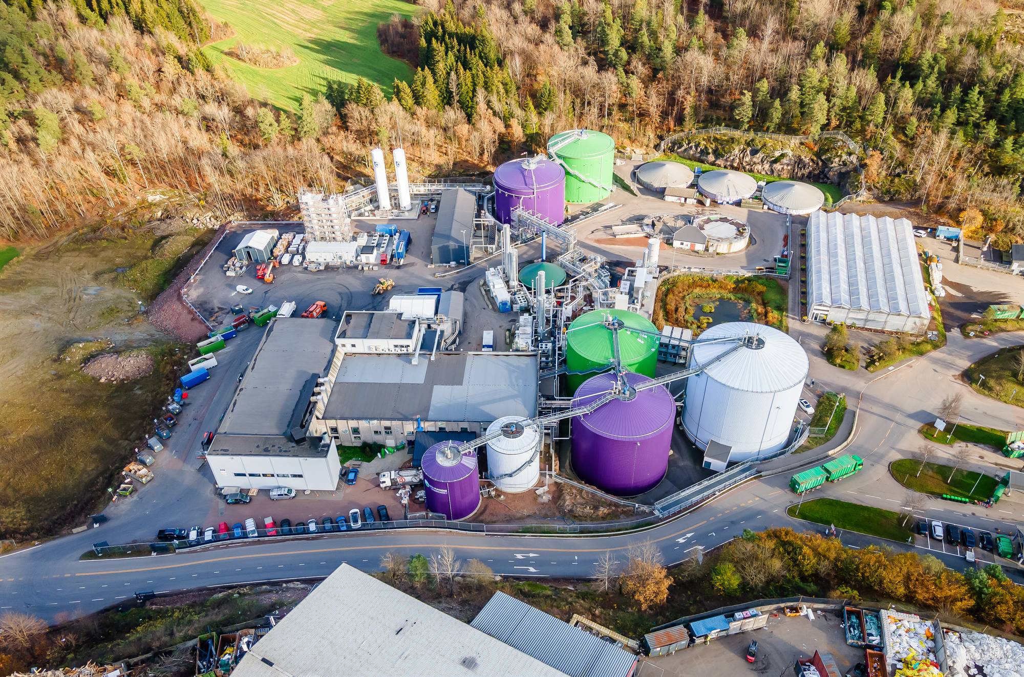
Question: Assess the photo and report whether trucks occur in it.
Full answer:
Yes, this view includes a truck.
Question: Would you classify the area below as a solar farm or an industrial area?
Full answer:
This looks like an industrial area.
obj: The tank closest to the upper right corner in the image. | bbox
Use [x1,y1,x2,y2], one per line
[763,184,826,222]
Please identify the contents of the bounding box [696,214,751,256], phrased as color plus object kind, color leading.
white storage tank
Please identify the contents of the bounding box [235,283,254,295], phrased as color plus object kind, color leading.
white vehicle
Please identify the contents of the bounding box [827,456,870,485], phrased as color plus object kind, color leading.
green truck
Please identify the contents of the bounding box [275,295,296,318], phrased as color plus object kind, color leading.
white truck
